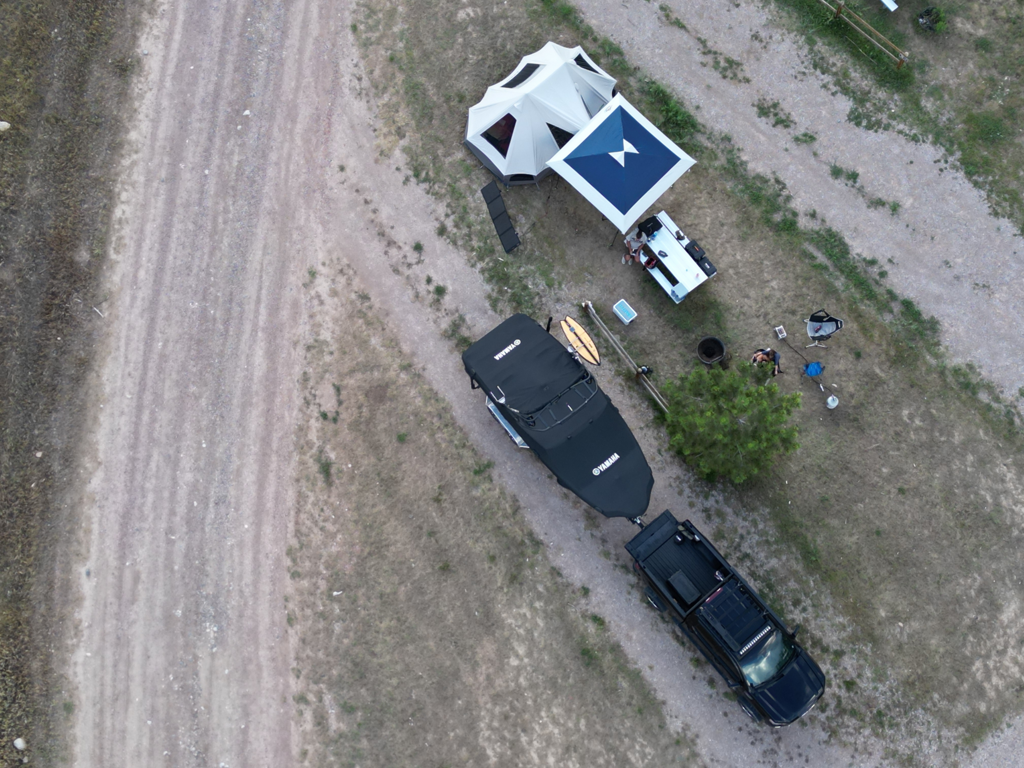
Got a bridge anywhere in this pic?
No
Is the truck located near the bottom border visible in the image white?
No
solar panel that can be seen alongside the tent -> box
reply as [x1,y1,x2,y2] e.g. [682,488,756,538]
[481,181,520,252]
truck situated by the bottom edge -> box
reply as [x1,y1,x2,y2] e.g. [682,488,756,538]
[625,509,827,736]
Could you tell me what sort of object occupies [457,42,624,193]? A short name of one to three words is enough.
tent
